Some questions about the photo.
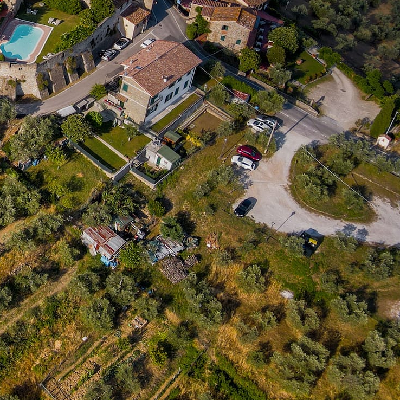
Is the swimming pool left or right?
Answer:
left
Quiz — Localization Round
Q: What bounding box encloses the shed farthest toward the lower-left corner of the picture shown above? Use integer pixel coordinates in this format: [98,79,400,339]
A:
[84,224,125,271]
